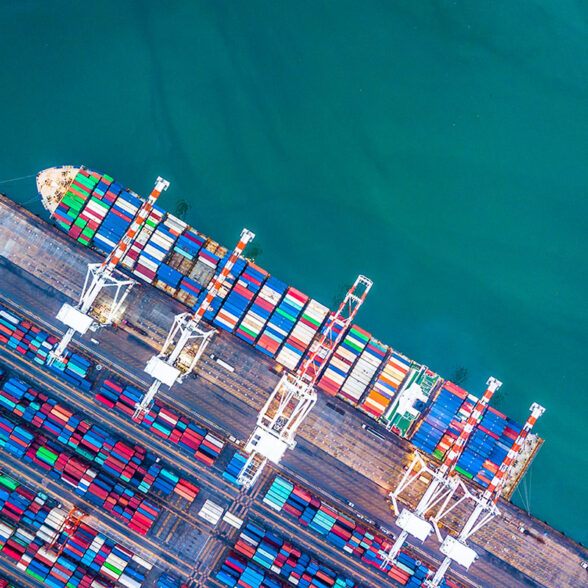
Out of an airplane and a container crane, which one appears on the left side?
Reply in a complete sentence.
It is a container crane that can be seen on the left side.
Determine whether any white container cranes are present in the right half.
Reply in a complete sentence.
Yes, a white container crane can be seen in the right half.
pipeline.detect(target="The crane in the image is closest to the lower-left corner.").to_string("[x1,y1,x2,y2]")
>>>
[49,501,96,556]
